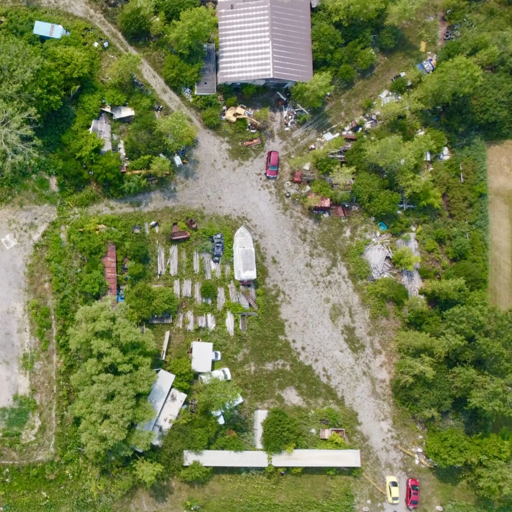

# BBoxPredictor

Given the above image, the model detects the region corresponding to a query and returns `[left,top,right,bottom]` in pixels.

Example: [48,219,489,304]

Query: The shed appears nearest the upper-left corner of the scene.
[94,109,127,156]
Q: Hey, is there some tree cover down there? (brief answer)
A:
Yes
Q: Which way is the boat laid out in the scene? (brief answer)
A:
vertically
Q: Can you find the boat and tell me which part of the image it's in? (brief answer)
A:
center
